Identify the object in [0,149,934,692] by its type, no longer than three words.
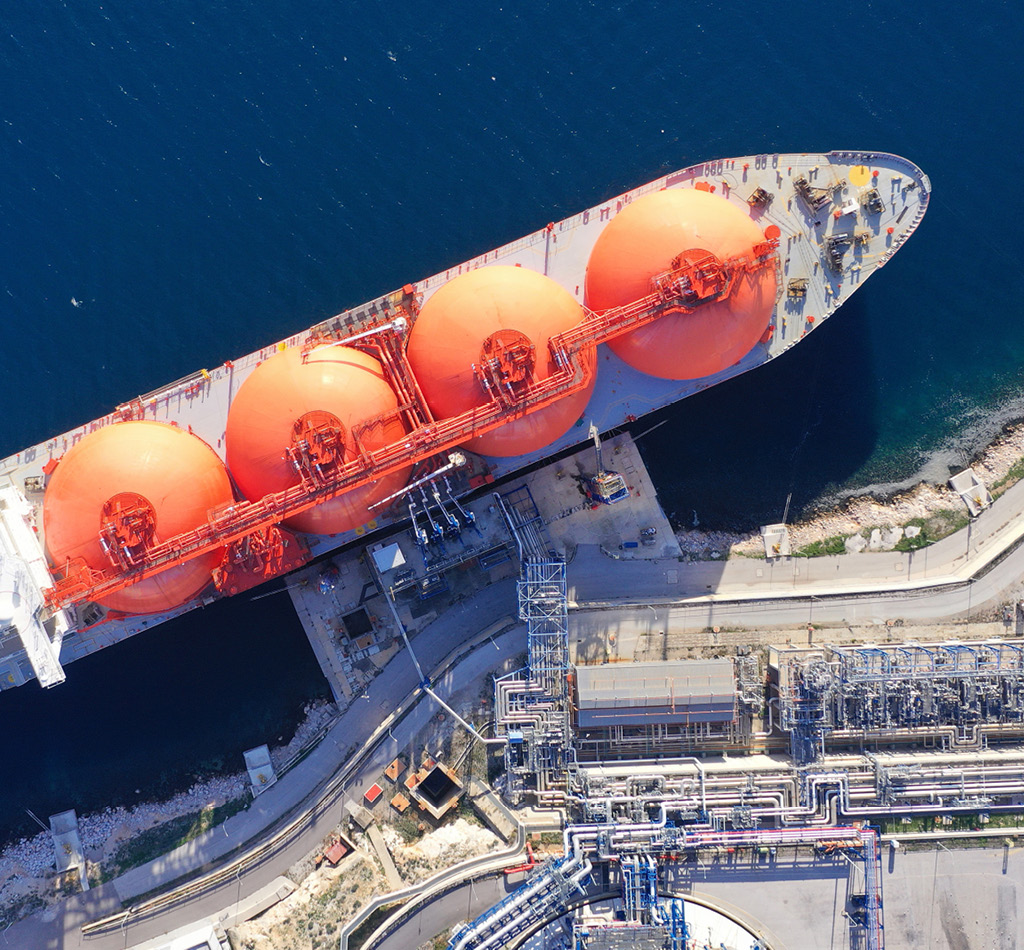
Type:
ship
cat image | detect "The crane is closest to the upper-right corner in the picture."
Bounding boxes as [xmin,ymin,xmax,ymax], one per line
[589,420,629,502]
